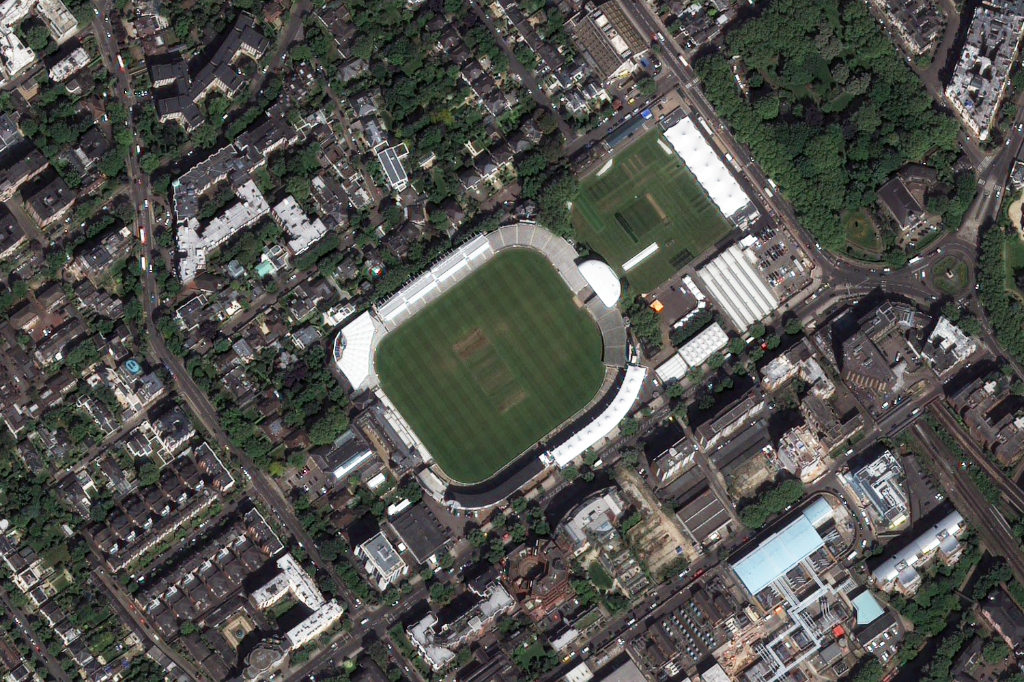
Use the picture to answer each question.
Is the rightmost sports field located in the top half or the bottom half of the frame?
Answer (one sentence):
Seen from above, the rightmost sports field lies in the top half of the view.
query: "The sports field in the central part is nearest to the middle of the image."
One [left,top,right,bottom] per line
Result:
[375,246,607,485]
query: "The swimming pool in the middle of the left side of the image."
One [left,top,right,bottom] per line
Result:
[120,360,140,377]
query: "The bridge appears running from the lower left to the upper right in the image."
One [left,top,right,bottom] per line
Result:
[864,375,960,451]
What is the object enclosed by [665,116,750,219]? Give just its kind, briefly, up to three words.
tent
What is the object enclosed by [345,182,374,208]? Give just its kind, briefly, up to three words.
house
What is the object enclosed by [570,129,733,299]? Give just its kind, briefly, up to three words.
sports field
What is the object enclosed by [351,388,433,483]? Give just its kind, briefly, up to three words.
building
